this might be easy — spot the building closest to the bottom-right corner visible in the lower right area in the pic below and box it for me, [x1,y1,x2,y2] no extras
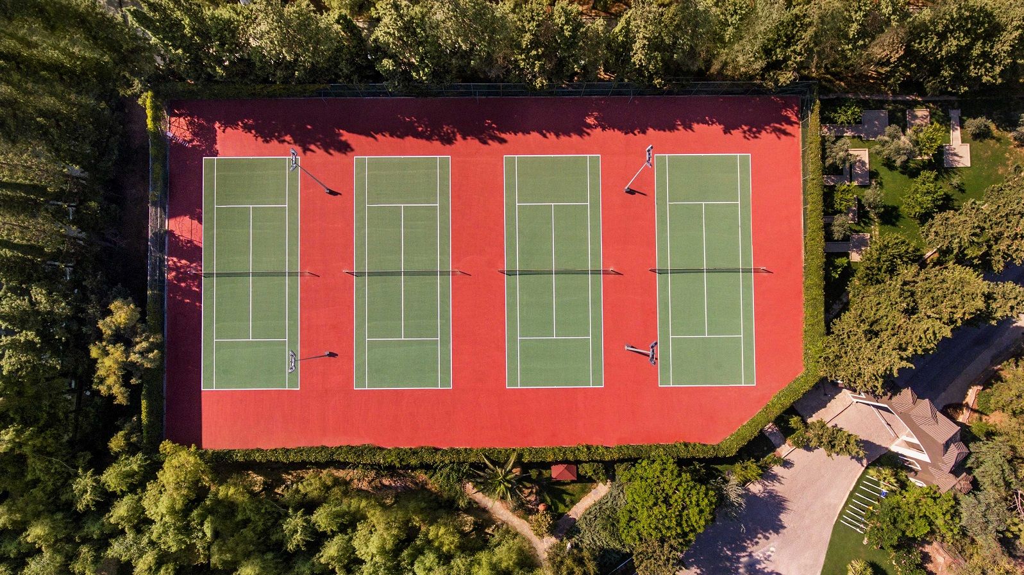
[844,374,977,498]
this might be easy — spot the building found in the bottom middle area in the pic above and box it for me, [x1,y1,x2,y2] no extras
[552,462,577,483]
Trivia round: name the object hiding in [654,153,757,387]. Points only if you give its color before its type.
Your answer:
green tennis court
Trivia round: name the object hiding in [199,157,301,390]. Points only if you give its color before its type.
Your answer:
green tennis court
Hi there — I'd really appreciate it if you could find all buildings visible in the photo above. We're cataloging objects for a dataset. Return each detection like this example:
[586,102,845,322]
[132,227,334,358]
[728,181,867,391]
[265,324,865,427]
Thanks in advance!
[552,462,577,483]
[844,374,977,498]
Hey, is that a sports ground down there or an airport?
sports ground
